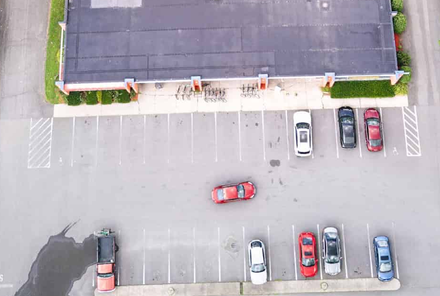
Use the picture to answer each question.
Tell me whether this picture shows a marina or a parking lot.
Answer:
parking lot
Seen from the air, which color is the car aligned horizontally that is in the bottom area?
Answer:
red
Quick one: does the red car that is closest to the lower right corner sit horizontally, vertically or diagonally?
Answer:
vertically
